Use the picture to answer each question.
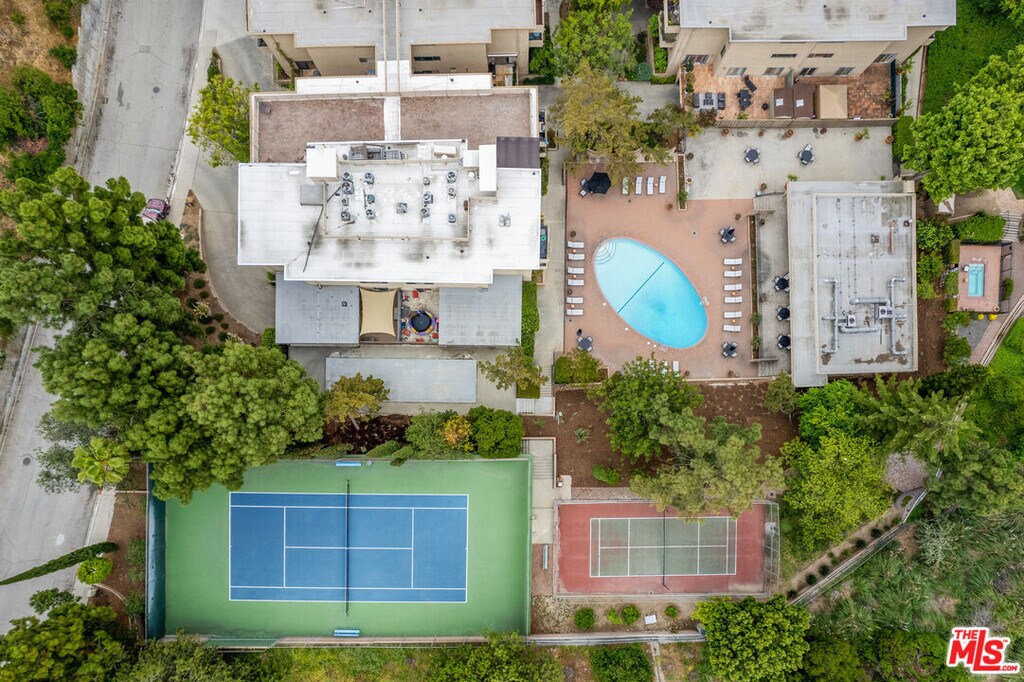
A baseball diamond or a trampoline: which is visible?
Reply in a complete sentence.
I can see a trampoline in this picture.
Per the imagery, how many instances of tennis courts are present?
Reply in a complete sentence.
The picture shows 2 tennis courts.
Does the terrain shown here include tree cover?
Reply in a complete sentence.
Yes, there is tree cover in the image.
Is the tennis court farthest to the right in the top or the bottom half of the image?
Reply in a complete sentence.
You can find the tennis court farthest to the right in the bottom half.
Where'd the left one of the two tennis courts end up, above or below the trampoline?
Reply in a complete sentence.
Looking at the photo, you'll find the left one of the two tennis courts below the trampoline.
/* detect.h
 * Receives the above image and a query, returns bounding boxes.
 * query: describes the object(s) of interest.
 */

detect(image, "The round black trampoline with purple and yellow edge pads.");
[408,310,432,334]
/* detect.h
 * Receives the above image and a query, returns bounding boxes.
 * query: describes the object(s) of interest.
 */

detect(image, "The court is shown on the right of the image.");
[556,501,766,594]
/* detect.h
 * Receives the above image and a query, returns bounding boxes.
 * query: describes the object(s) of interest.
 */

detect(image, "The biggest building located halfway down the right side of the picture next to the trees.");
[785,181,918,387]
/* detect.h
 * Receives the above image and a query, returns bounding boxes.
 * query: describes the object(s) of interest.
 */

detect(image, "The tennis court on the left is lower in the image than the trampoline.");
[164,457,531,637]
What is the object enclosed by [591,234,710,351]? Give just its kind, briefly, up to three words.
swimming pool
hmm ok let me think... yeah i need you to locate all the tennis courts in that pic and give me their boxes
[164,457,531,637]
[556,501,766,594]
